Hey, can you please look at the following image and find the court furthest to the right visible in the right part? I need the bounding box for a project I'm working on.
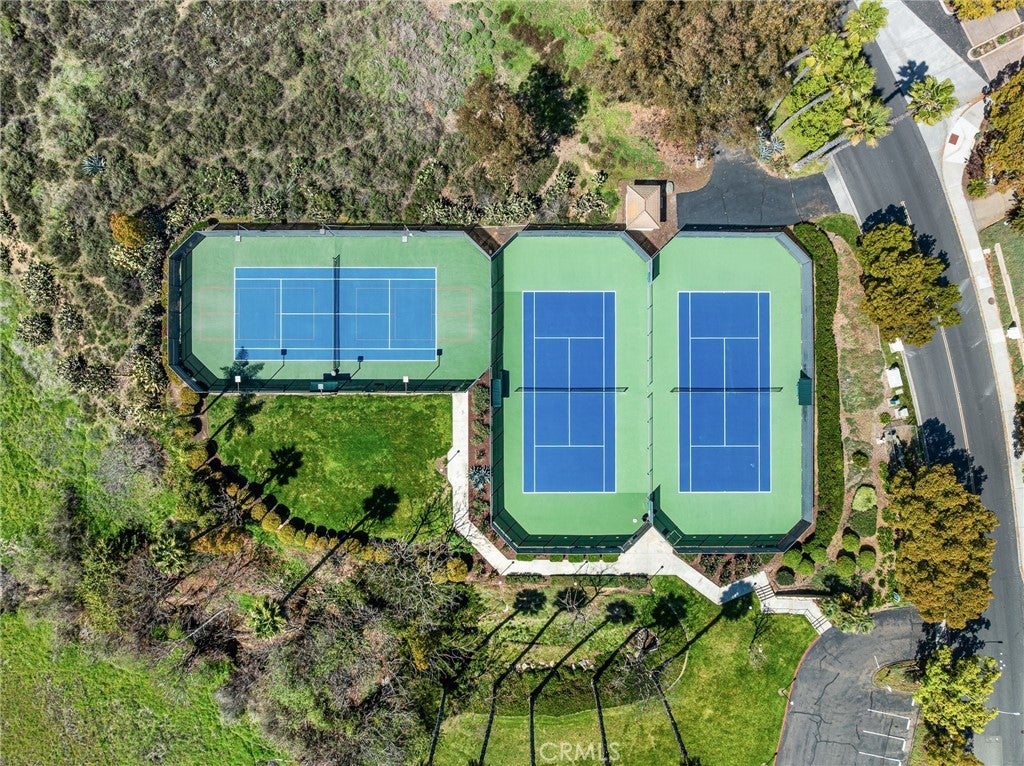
[647,238,800,545]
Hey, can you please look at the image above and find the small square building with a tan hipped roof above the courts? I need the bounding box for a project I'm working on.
[625,185,661,231]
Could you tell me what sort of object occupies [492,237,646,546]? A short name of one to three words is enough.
tennis court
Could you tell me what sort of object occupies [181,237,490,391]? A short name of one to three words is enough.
tennis court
